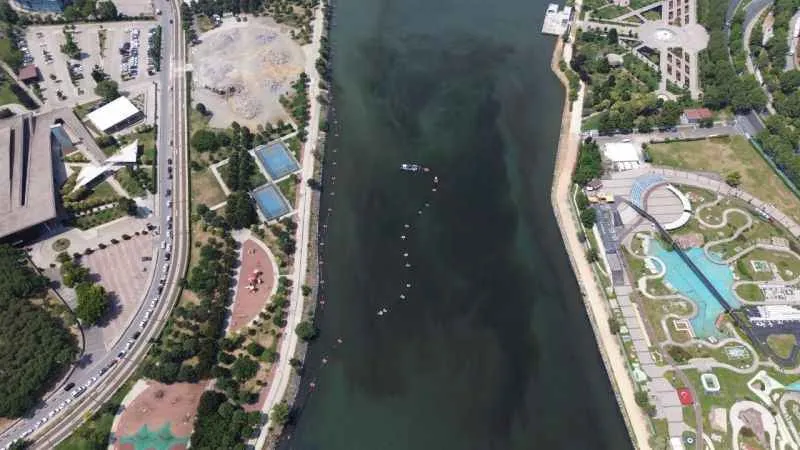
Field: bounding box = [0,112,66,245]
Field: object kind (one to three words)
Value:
building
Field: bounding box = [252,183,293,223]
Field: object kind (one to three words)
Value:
sports court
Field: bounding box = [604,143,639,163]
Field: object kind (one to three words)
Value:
tent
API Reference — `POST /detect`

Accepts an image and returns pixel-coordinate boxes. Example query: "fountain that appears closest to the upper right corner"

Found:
[655,28,675,41]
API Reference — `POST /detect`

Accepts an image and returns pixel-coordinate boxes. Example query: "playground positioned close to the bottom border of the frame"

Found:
[115,381,203,450]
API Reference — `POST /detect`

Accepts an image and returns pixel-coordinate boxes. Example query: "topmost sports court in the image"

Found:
[254,139,301,181]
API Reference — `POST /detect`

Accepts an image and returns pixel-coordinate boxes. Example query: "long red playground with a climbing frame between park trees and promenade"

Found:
[228,238,275,333]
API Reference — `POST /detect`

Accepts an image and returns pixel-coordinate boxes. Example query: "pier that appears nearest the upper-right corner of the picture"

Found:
[541,4,576,37]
